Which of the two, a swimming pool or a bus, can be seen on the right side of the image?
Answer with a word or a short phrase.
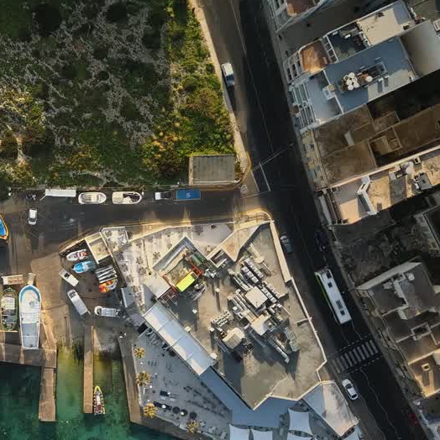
bus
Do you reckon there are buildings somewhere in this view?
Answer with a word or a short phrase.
Yes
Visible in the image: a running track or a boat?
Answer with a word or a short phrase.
boat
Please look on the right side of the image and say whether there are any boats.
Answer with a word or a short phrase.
No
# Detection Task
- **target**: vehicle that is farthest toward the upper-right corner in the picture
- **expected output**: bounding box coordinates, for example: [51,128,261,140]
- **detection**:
[221,62,234,87]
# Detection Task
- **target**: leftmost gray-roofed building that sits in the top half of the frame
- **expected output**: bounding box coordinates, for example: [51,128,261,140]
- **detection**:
[188,154,236,184]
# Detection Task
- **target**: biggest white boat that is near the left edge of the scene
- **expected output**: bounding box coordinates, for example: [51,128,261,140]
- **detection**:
[19,286,41,348]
